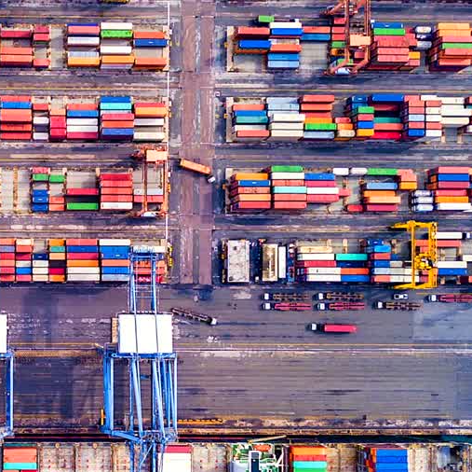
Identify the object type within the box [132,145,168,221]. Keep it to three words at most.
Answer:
container crane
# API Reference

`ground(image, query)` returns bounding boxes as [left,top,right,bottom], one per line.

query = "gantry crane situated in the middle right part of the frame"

[386,221,436,293]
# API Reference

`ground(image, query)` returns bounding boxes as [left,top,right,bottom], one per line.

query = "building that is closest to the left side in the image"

[225,240,249,282]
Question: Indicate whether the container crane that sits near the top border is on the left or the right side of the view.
right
